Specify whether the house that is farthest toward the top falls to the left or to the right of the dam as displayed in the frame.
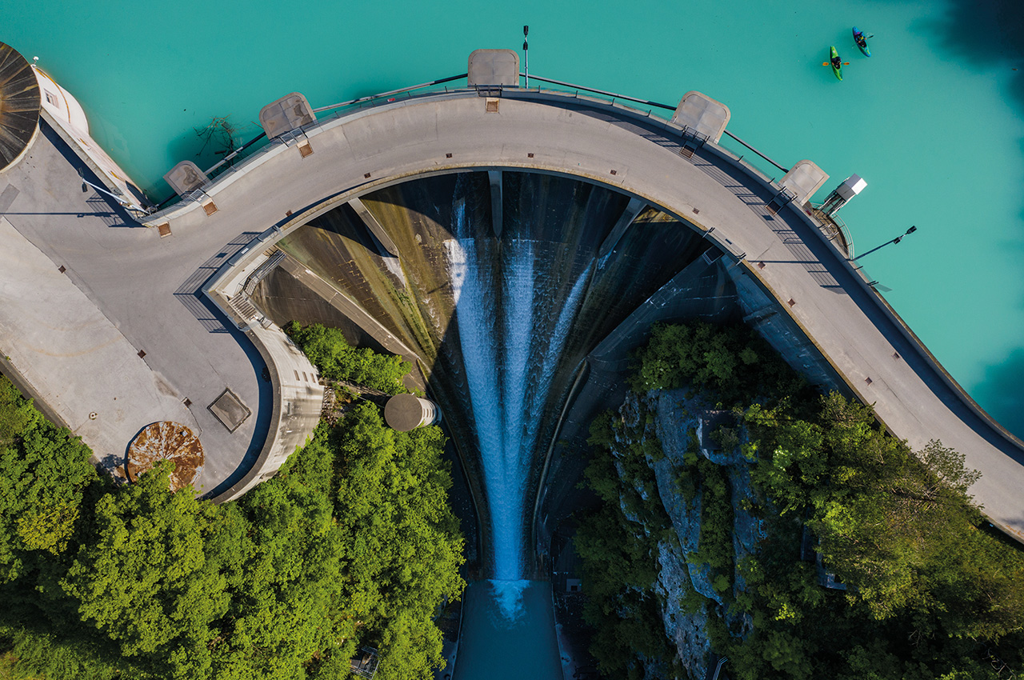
to the left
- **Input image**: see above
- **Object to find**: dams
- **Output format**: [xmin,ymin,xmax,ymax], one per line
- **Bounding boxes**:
[147,49,1024,582]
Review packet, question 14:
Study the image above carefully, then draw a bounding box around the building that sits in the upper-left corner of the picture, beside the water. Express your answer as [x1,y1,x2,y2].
[0,42,95,183]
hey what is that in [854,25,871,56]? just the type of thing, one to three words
boat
